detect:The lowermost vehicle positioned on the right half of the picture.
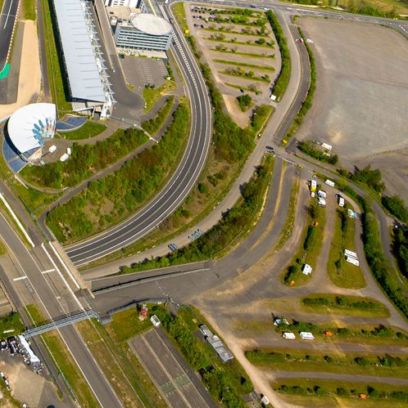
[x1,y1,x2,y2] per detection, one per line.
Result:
[258,389,274,408]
